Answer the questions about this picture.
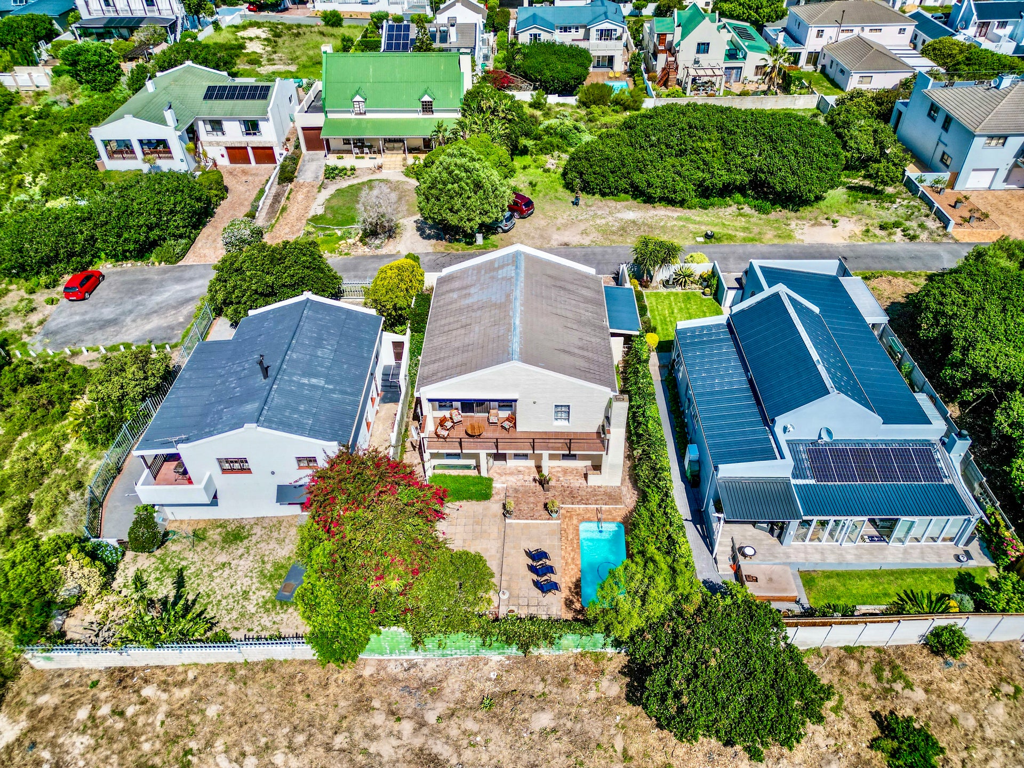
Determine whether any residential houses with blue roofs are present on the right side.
Yes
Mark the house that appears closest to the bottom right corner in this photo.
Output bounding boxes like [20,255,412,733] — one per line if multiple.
[675,251,986,557]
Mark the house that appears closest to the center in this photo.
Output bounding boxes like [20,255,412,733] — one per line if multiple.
[411,239,645,483]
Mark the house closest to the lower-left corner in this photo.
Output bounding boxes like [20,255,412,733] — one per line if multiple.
[119,289,407,517]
